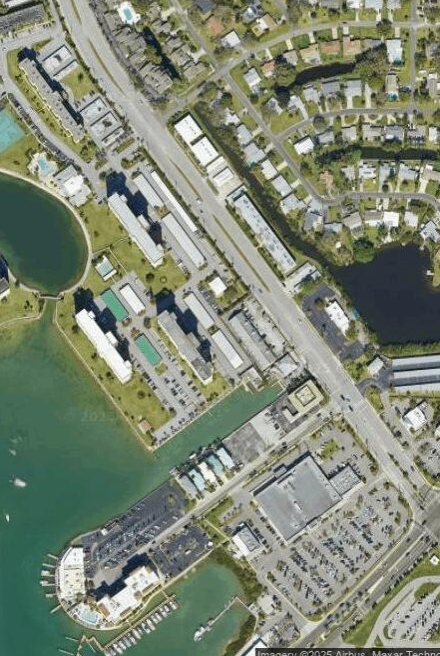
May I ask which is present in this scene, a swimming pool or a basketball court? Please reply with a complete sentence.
Of the two, only a swimming pool appears.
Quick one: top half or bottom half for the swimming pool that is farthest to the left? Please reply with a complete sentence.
The top half of the photo is where the swimming pool that is farthest to the left is.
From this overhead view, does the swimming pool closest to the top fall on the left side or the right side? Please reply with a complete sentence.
The swimming pool closest to the top appears in the left half of the scene.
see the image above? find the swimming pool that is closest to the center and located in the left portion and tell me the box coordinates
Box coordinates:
[95,257,116,280]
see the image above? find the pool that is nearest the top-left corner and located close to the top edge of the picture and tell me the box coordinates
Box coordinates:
[119,1,140,23]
